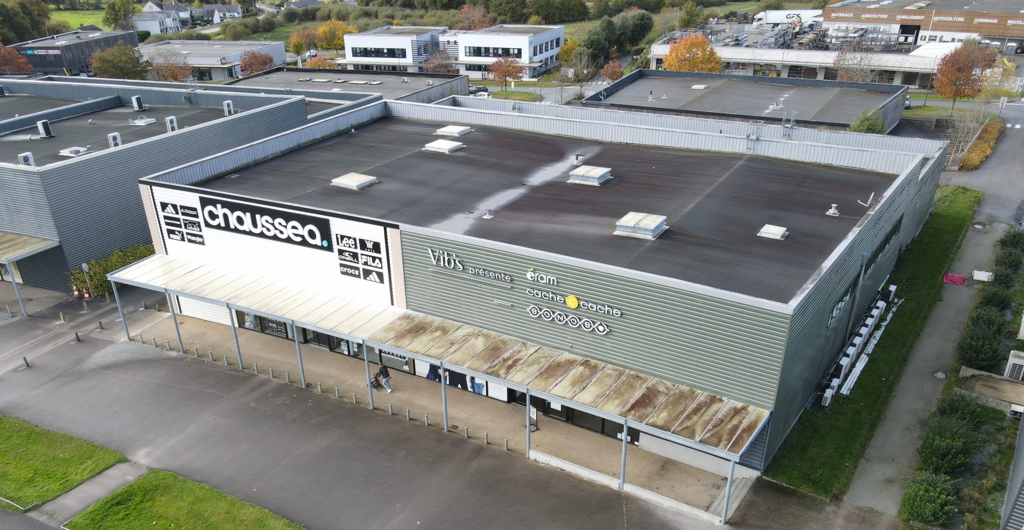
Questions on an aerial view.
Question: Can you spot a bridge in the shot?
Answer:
No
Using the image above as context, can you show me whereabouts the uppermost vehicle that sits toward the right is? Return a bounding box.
[757,10,824,27]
